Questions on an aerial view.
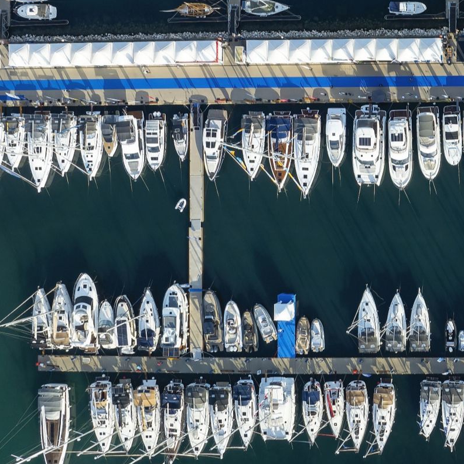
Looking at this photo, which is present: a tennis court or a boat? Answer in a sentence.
Looking from above, you can make out a boat.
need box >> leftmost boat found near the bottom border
[0,369,76,464]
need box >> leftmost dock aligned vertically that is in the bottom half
[189,227,205,350]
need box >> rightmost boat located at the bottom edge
[441,374,464,457]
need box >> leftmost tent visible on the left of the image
[9,44,37,68]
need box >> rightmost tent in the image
[420,38,443,65]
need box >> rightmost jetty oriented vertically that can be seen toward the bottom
[277,294,296,357]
